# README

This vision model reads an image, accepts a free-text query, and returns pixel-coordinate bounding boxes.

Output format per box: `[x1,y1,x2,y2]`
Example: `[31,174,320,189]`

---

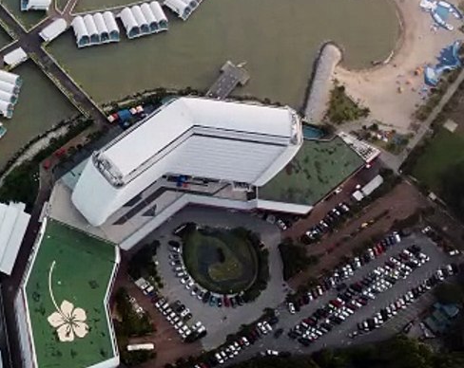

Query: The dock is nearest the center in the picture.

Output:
[207,60,249,100]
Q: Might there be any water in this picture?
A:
Yes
